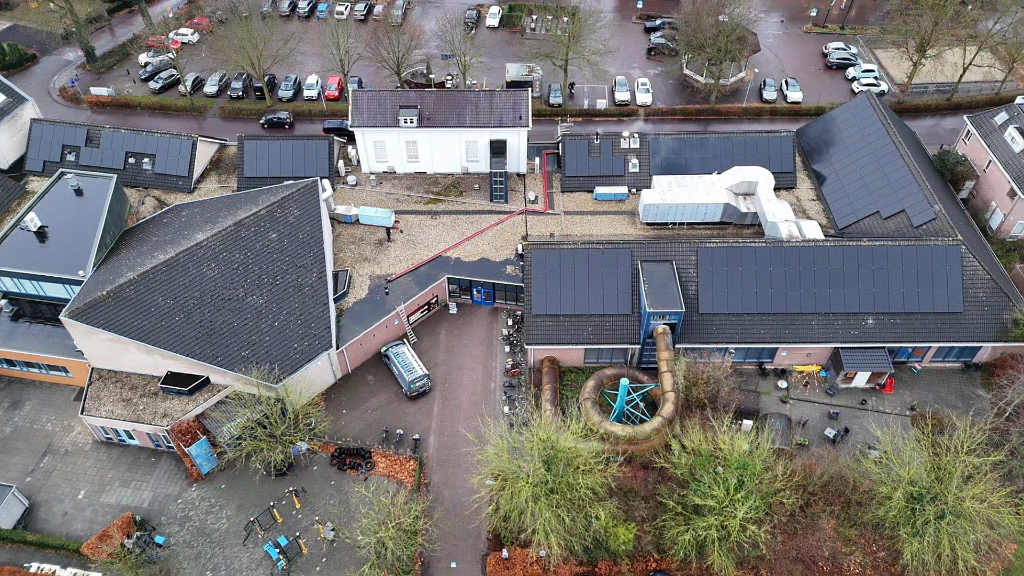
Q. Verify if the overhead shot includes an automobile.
Yes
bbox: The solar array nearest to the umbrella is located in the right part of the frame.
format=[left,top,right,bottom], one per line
[698,246,969,313]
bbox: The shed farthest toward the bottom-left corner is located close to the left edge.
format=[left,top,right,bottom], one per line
[0,478,32,526]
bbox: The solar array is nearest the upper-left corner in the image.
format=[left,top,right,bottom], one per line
[15,123,192,175]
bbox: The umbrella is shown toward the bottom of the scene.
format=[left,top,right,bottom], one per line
[789,365,823,395]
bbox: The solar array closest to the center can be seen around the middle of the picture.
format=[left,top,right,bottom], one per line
[532,247,633,314]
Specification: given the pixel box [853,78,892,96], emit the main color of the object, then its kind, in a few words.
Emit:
white car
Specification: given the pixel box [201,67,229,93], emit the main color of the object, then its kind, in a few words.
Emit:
gray car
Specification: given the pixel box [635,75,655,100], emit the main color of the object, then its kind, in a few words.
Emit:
white car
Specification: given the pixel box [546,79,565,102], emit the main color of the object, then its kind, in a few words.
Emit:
gray car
